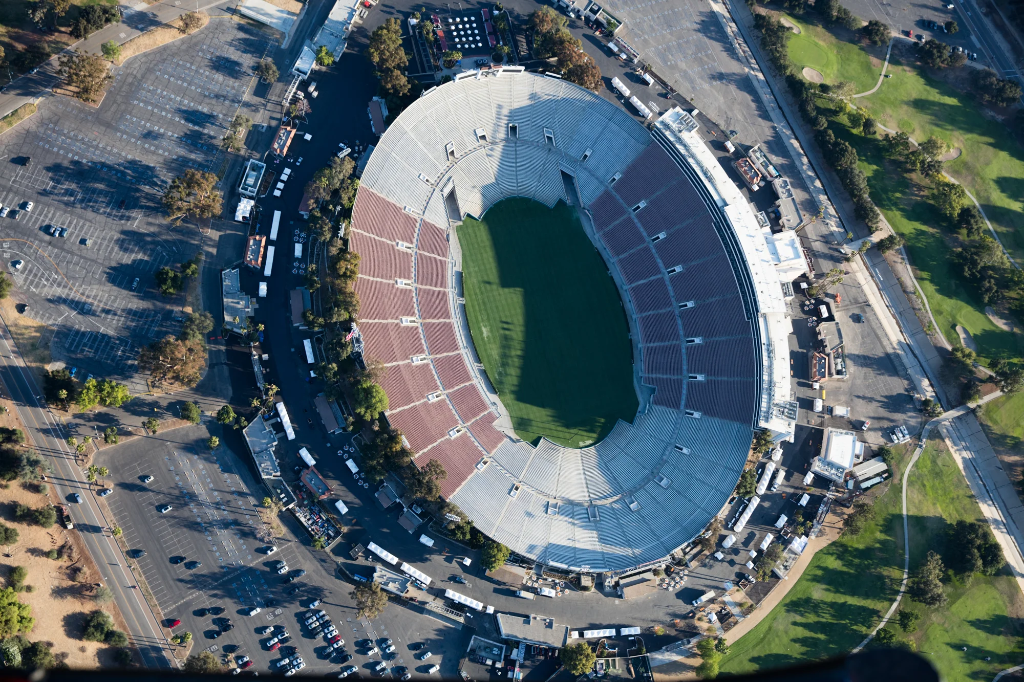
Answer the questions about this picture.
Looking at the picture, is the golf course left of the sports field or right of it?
right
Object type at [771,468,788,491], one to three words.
vehicle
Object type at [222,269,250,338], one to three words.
building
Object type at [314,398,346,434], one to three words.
shed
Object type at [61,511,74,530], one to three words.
vehicle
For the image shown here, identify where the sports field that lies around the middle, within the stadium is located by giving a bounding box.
[458,199,638,447]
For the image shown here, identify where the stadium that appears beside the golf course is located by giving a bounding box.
[347,70,761,579]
